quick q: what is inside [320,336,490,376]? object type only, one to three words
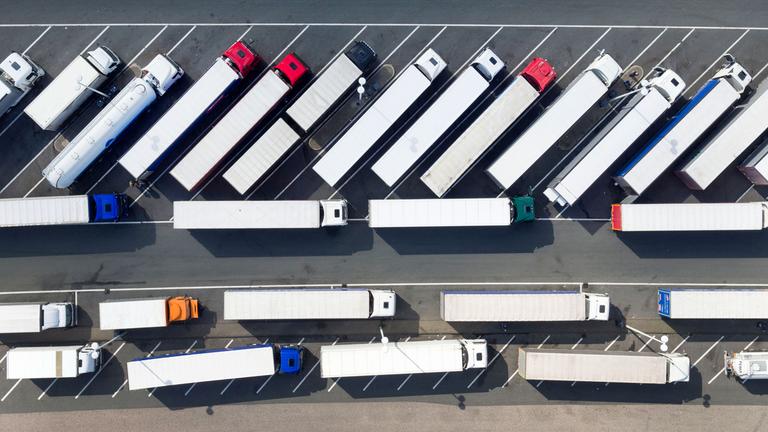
truck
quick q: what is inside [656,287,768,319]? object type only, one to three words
truck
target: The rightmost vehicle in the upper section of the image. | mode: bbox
[736,136,768,188]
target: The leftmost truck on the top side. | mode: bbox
[0,50,48,121]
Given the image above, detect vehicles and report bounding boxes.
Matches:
[224,286,398,320]
[223,38,380,196]
[6,344,105,379]
[518,346,690,383]
[440,290,610,321]
[99,294,202,330]
[482,50,626,190]
[610,203,768,232]
[313,44,452,188]
[118,39,262,182]
[0,50,48,121]
[127,338,304,390]
[539,68,688,209]
[25,44,122,131]
[370,46,508,188]
[0,193,129,226]
[418,57,556,198]
[367,196,536,228]
[670,77,768,190]
[736,136,768,188]
[172,199,350,230]
[610,57,755,196]
[41,53,182,190]
[656,287,768,319]
[320,336,490,376]
[170,50,314,193]
[0,301,70,333]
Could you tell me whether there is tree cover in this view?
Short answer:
No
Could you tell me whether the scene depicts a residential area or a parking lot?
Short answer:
parking lot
